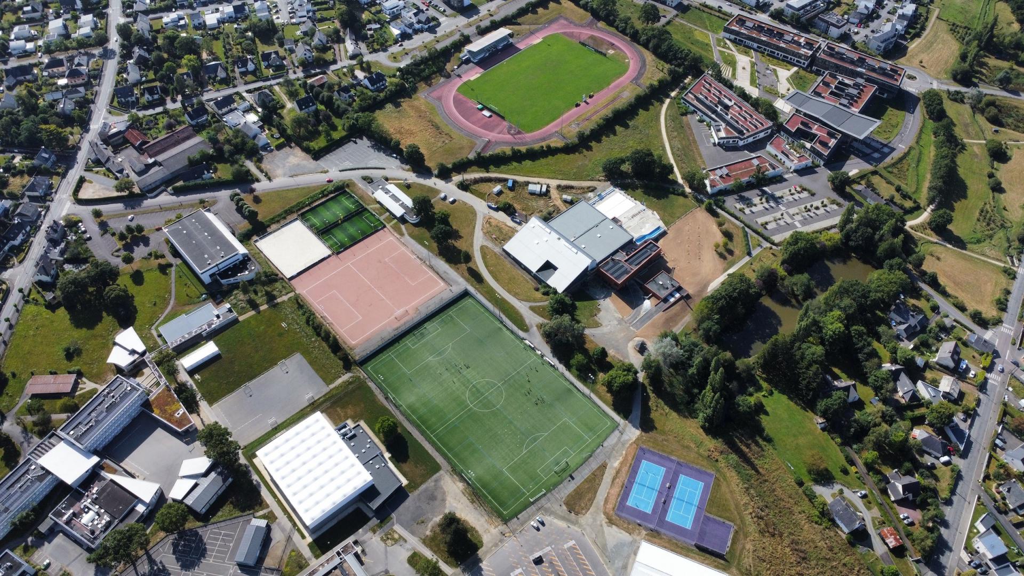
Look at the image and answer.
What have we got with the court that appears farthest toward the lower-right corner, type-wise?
tennis court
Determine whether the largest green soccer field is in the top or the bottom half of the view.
bottom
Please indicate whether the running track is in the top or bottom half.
top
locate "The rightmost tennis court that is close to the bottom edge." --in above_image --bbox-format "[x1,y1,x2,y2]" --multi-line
[615,446,733,551]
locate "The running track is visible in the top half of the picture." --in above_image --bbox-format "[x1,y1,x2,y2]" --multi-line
[419,15,647,153]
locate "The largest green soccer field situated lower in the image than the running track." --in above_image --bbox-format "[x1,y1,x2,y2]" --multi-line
[361,296,617,520]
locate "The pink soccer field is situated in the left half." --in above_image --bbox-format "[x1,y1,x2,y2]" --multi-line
[288,227,466,360]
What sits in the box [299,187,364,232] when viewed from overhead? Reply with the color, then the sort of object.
green sports field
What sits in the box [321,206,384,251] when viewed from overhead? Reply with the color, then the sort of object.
green sports field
